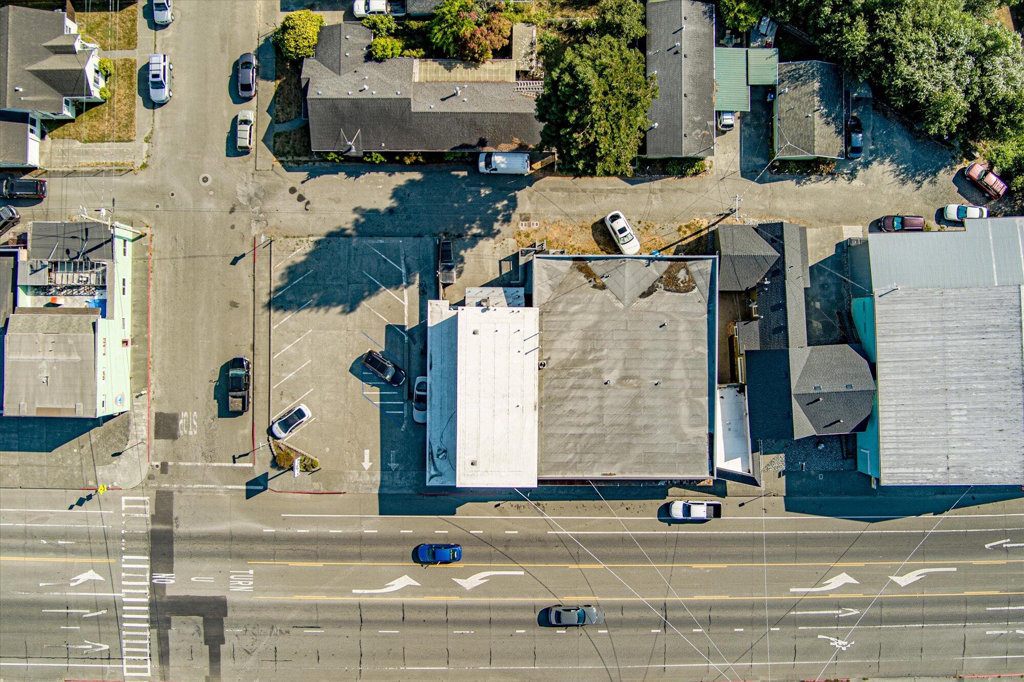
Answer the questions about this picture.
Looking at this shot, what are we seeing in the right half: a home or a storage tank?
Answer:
home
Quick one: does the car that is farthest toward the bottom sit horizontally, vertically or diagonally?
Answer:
horizontally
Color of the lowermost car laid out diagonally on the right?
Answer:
white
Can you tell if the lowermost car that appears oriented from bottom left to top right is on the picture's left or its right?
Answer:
left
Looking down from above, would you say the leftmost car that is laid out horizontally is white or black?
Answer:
black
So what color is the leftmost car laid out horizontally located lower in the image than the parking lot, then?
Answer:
blue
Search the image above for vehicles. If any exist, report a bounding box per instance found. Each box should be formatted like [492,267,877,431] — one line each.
[604,208,641,255]
[437,240,458,286]
[272,402,313,441]
[0,204,23,243]
[845,117,867,160]
[227,357,252,412]
[878,213,928,233]
[419,543,462,565]
[359,349,406,388]
[670,500,722,522]
[962,164,1013,202]
[410,377,426,423]
[151,0,176,26]
[147,52,173,104]
[354,0,406,16]
[0,177,49,199]
[236,53,259,99]
[942,201,989,222]
[548,605,598,628]
[479,152,530,175]
[235,110,257,153]
[715,111,737,132]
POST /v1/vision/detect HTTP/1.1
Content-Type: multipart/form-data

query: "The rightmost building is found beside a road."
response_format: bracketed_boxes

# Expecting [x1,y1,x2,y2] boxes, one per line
[853,218,1024,488]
